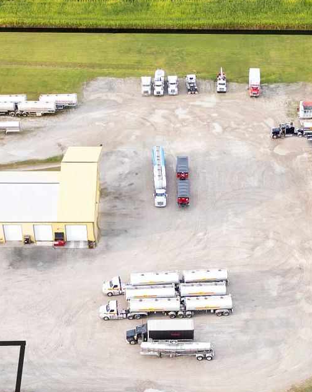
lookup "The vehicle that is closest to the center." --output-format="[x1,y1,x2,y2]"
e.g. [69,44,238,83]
[154,186,167,207]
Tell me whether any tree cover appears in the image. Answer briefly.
No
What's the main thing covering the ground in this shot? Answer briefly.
paved ground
